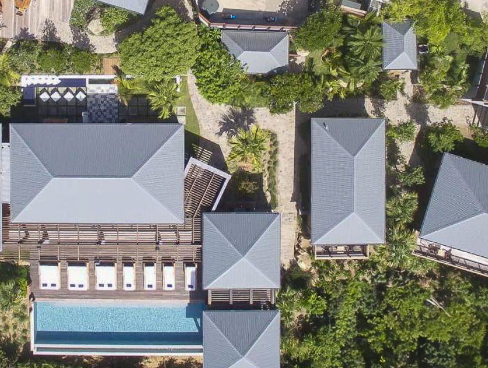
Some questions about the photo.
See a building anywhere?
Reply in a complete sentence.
Yes, looking at the shot, I can spot a building.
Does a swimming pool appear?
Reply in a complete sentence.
Yes, the picture does show a swimming pool.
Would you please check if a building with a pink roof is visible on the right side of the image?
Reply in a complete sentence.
No, the scene shows no building with a pink roof on the right side of the image.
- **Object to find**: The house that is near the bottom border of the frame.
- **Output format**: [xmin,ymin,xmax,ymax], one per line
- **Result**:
[202,305,280,368]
